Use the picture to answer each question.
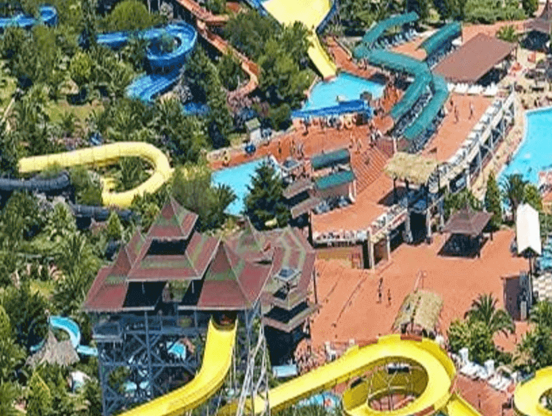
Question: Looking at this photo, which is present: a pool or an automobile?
pool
